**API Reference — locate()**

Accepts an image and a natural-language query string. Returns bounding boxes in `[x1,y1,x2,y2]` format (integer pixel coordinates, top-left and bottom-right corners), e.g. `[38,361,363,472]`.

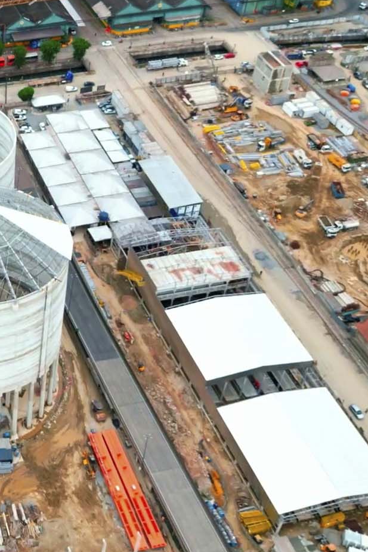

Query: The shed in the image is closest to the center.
[139,245,253,309]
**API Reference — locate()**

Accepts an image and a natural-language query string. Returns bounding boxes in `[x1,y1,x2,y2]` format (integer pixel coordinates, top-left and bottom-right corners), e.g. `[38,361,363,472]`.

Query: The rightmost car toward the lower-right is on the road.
[349,402,366,419]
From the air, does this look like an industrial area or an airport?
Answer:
industrial area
